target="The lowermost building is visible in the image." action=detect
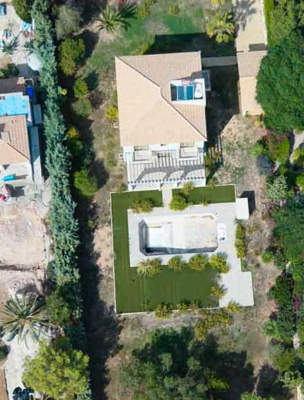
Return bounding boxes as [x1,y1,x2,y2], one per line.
[237,197,251,221]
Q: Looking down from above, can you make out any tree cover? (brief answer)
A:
Yes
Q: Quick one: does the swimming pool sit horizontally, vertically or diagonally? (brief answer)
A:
horizontally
